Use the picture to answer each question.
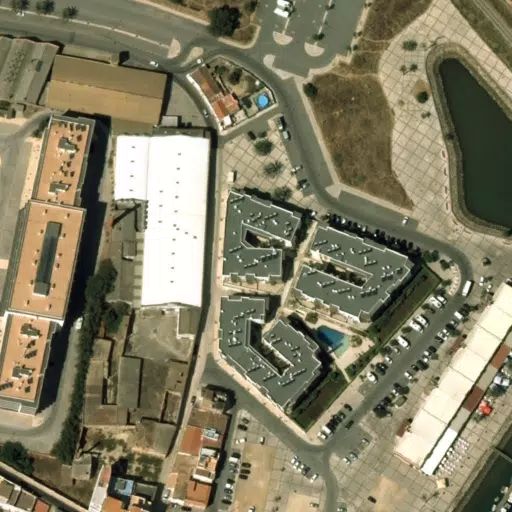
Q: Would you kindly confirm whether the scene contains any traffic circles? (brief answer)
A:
No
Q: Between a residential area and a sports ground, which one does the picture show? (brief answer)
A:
residential area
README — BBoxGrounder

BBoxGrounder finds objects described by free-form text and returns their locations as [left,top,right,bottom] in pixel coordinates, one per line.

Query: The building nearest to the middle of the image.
[220,192,300,280]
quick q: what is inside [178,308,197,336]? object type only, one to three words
shed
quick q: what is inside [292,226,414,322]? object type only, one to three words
building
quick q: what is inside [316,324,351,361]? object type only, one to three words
swimming pool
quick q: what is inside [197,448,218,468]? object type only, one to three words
house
